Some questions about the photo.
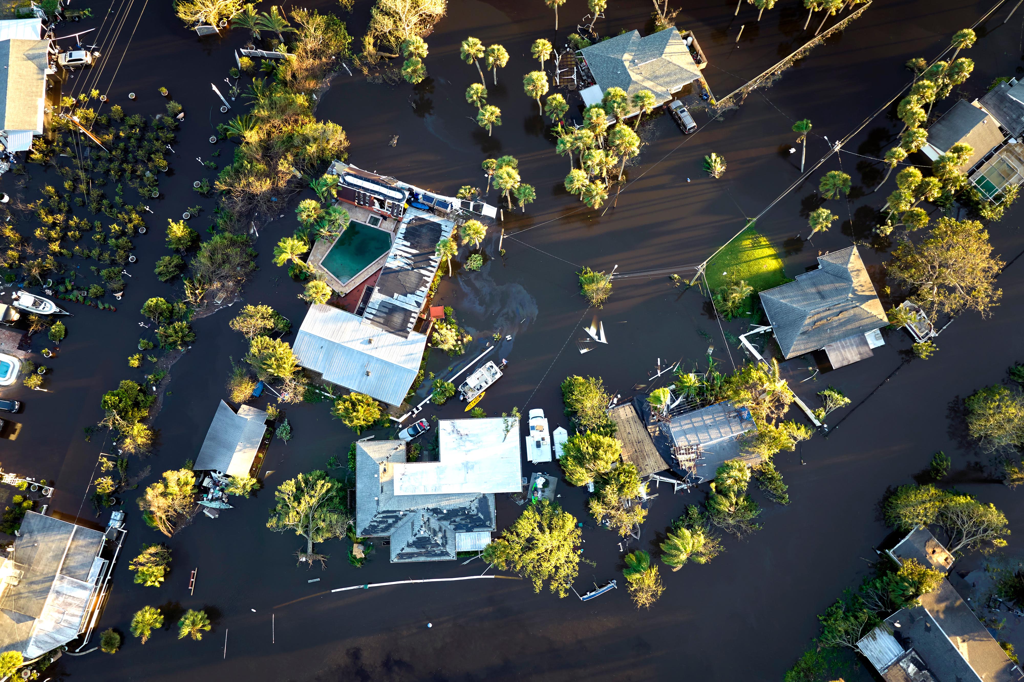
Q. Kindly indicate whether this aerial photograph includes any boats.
Yes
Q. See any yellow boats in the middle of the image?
Yes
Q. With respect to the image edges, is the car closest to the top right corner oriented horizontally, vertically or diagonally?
diagonally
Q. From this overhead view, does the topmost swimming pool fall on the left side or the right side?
left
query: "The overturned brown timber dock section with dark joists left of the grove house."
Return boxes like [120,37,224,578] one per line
[552,53,577,86]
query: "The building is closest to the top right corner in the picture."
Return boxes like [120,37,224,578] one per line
[971,77,1024,145]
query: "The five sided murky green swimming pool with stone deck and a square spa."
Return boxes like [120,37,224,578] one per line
[307,200,402,296]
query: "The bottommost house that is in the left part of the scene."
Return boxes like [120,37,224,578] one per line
[0,510,120,659]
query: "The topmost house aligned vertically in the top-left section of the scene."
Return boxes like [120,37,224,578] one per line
[0,18,61,158]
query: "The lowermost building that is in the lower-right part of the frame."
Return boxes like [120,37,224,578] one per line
[850,577,1024,682]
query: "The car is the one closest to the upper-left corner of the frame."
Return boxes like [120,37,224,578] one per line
[61,50,95,66]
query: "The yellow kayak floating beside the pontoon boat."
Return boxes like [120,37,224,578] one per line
[465,392,485,412]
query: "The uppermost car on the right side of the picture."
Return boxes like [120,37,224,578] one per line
[667,101,697,135]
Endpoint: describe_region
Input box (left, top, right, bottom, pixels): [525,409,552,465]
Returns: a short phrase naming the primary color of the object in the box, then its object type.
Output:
white camper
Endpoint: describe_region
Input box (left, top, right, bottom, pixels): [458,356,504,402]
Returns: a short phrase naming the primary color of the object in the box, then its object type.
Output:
white boat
